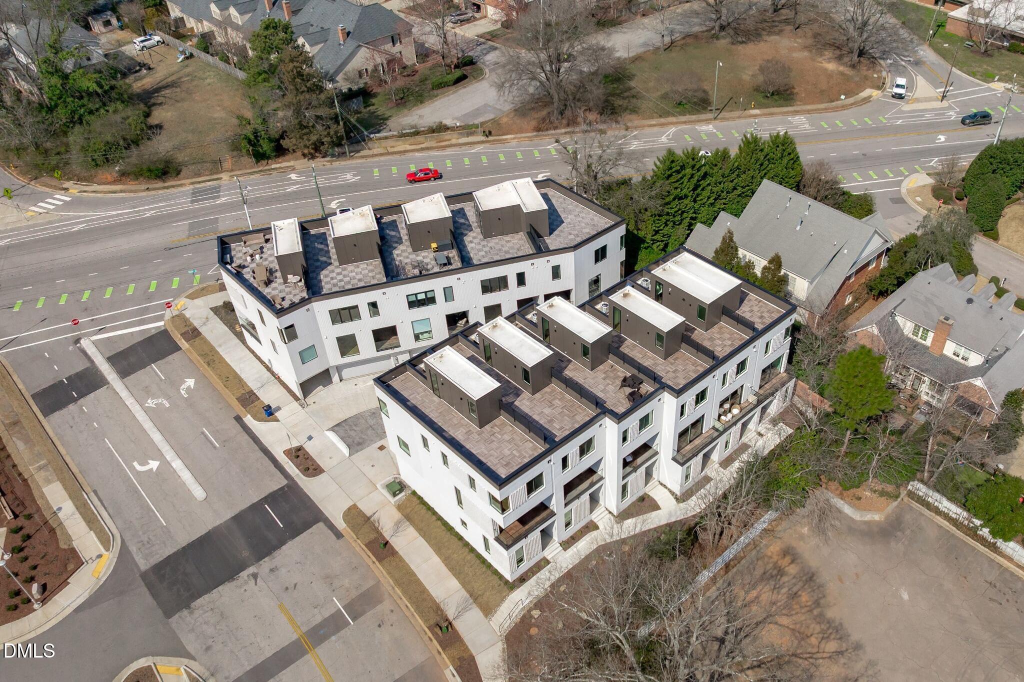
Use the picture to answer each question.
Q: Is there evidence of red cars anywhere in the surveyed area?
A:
Yes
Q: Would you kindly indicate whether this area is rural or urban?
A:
urban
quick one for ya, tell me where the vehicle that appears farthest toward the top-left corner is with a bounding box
[130,32,164,49]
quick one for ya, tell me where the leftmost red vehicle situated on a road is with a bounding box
[405,166,442,184]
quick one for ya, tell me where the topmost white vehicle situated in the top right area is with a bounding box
[891,71,909,97]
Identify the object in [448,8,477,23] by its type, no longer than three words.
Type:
car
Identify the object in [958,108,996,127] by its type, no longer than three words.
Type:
car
